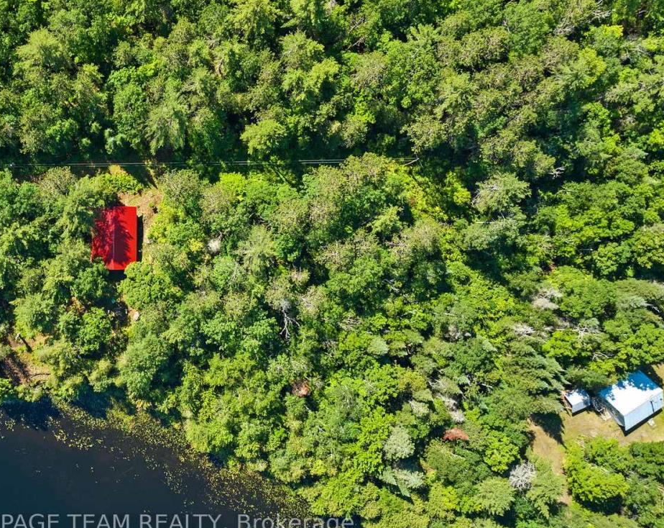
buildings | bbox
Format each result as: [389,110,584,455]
[91,206,137,271]
[562,388,591,415]
[594,373,664,433]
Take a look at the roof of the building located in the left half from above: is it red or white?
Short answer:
red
